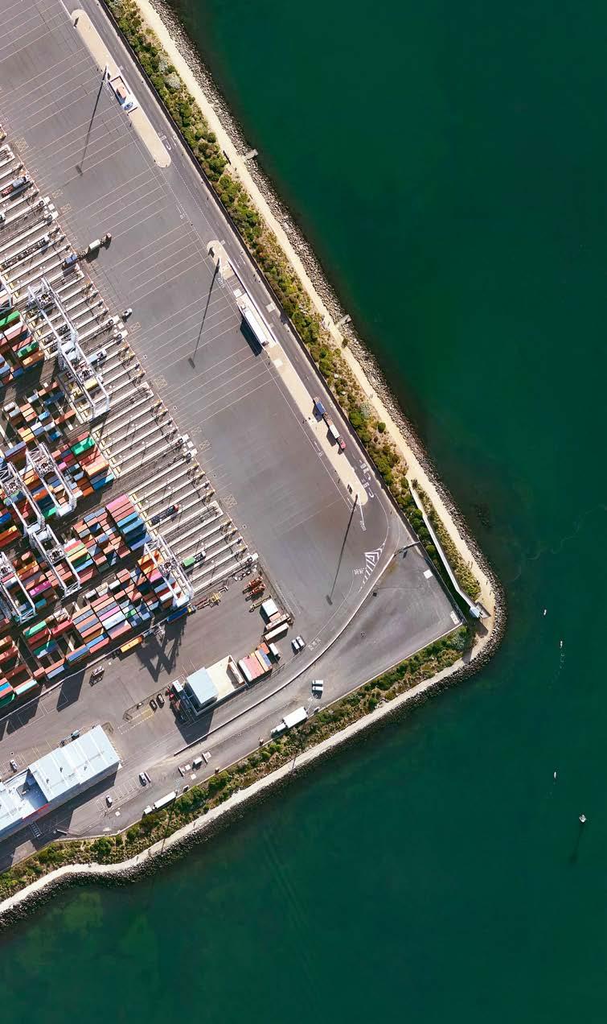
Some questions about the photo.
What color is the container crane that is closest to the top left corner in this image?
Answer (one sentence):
From above, the container crane that is closest to the top left corner appears white.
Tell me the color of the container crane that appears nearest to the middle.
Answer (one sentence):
From above, the container crane that appears nearest to the middle appears white.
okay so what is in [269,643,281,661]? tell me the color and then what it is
white vehicle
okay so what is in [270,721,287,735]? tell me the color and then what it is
white vehicle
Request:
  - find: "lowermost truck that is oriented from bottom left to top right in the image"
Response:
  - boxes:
[143,792,176,815]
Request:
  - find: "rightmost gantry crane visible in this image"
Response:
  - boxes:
[141,536,197,611]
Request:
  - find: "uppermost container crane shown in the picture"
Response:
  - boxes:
[25,277,81,354]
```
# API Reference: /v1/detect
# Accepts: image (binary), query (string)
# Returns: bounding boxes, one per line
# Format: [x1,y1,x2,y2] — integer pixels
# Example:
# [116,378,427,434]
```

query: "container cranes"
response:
[141,536,197,611]
[57,338,113,417]
[25,277,81,354]
[22,443,79,520]
[0,463,46,540]
[0,552,38,627]
[28,523,85,603]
